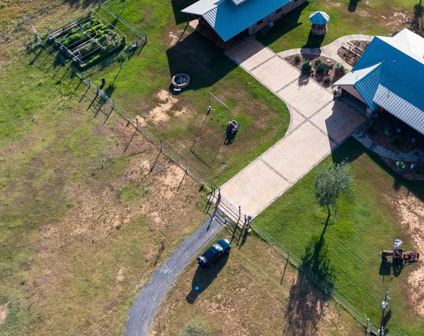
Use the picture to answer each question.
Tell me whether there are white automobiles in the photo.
No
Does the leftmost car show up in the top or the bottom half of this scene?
bottom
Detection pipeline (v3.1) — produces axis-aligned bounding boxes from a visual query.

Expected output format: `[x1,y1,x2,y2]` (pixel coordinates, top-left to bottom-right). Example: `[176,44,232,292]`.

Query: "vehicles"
[193,240,231,270]
[389,249,416,268]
